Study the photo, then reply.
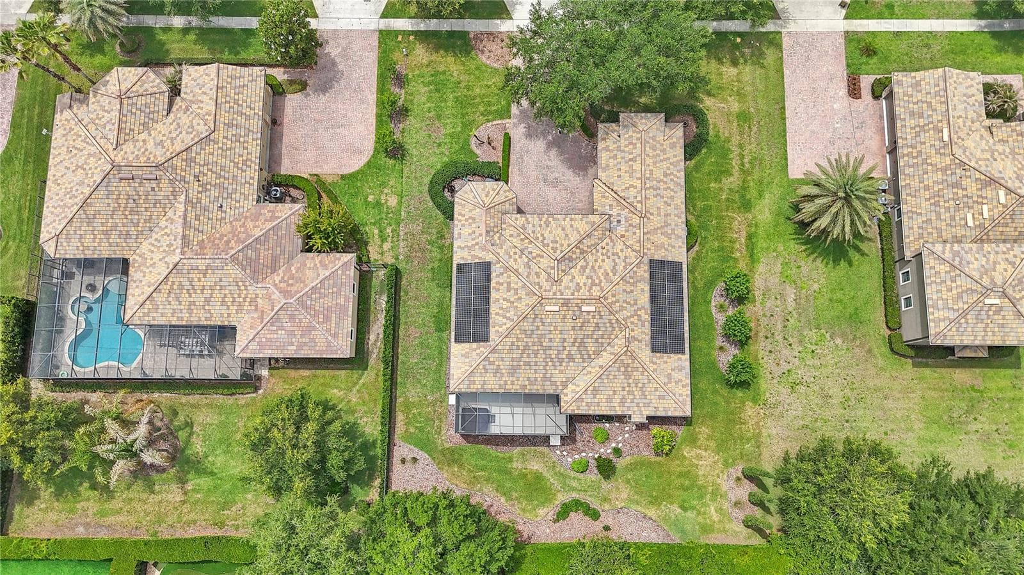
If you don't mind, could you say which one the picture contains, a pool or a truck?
pool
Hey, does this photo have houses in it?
Yes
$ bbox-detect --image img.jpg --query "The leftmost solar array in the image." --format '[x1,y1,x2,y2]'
[454,259,489,343]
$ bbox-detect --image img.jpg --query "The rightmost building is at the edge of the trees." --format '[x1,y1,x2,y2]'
[879,65,1024,358]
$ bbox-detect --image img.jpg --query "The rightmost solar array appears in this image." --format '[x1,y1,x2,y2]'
[652,261,685,353]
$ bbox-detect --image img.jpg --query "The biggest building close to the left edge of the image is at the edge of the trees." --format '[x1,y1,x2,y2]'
[40,62,356,358]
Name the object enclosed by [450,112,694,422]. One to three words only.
house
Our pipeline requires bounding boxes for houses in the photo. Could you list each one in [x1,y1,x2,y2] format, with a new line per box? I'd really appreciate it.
[450,112,694,422]
[40,62,356,358]
[879,65,1024,358]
